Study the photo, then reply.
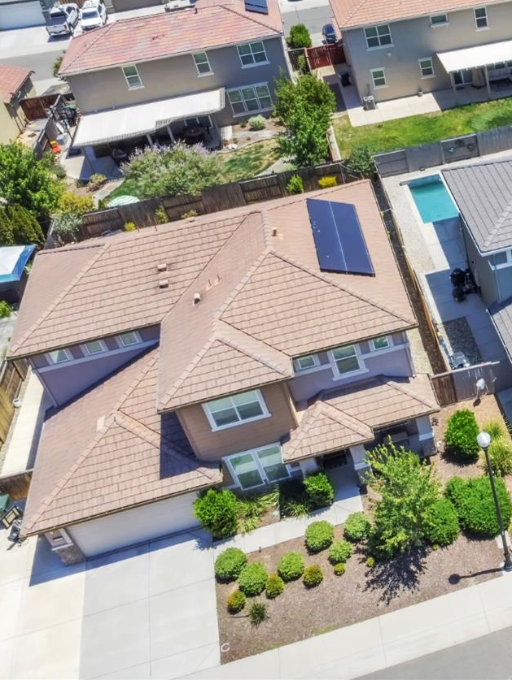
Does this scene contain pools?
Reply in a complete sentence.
Yes, I can see a pool in this picture.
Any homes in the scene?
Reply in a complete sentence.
Yes, I can see a home in this picture.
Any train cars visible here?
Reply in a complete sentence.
No, the picture doesn't show any train car.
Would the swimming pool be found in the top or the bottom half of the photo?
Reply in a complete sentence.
It is in the top half that the swimming pool appears.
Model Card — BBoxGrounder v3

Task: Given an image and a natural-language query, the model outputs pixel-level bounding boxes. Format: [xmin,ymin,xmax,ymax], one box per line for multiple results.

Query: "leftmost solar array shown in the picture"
[245,0,269,17]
